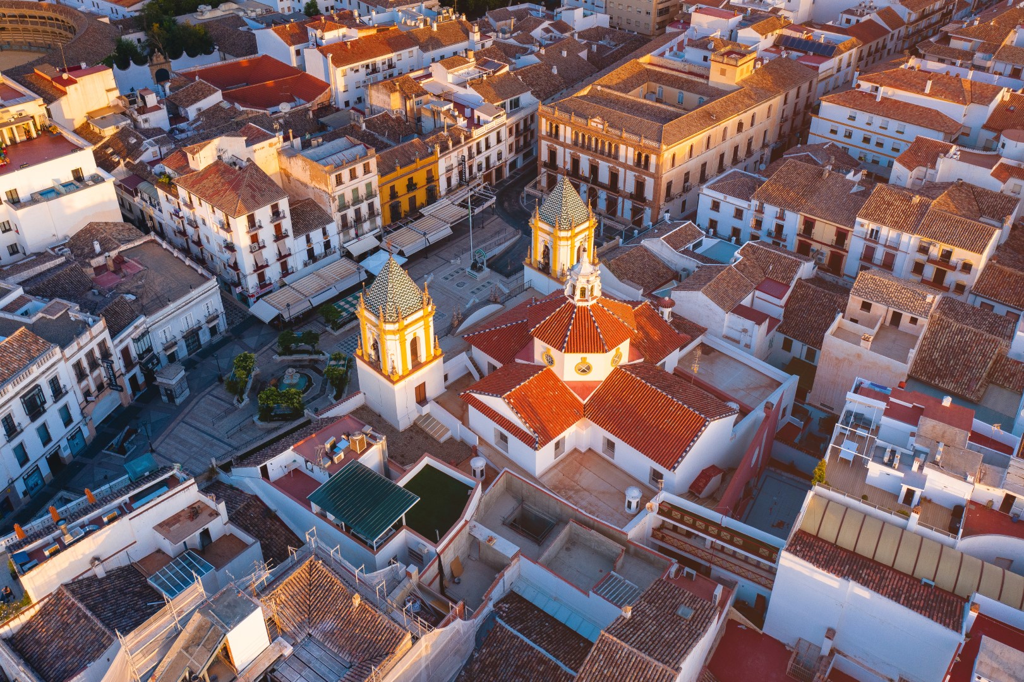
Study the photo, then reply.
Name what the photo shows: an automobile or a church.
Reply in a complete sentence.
The image shows a church.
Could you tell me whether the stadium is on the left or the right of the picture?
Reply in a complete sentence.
The stadium is on the left side of the image.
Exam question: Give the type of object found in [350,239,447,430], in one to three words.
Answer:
building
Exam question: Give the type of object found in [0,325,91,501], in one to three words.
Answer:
house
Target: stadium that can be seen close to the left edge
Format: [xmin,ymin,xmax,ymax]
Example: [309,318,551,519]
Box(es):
[0,0,129,80]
